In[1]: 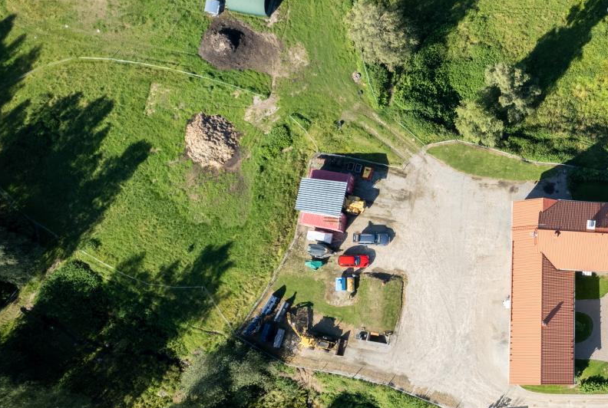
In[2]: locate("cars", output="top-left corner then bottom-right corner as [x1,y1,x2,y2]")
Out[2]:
[350,230,392,247]
[338,253,372,269]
